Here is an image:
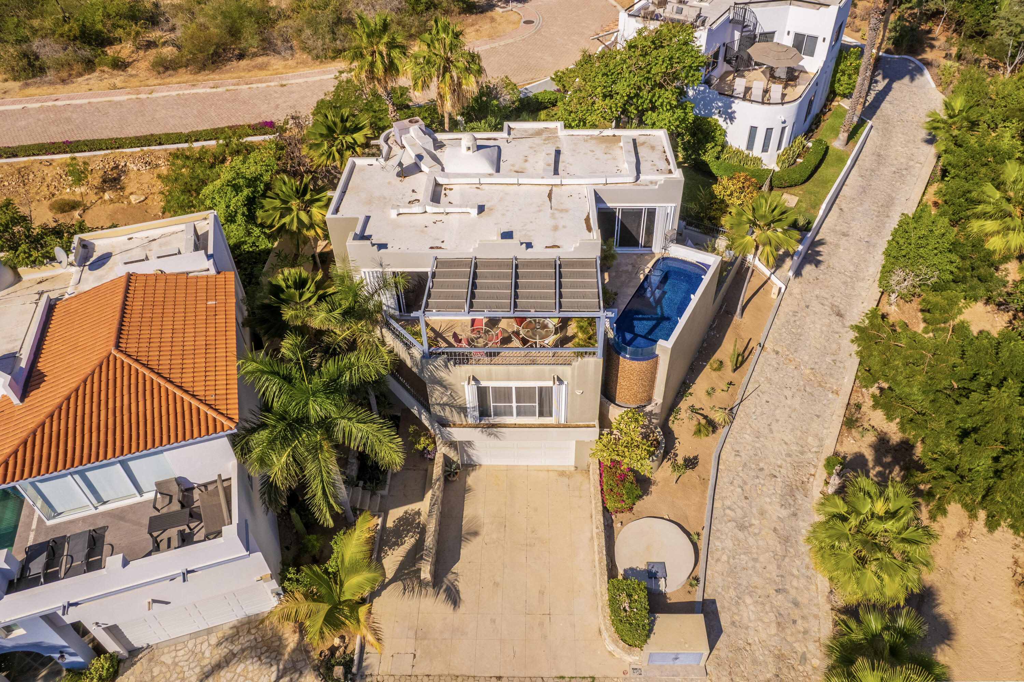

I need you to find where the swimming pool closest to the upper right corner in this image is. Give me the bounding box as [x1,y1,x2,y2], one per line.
[602,254,707,413]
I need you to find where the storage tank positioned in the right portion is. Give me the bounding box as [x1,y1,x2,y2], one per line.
[615,511,698,589]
